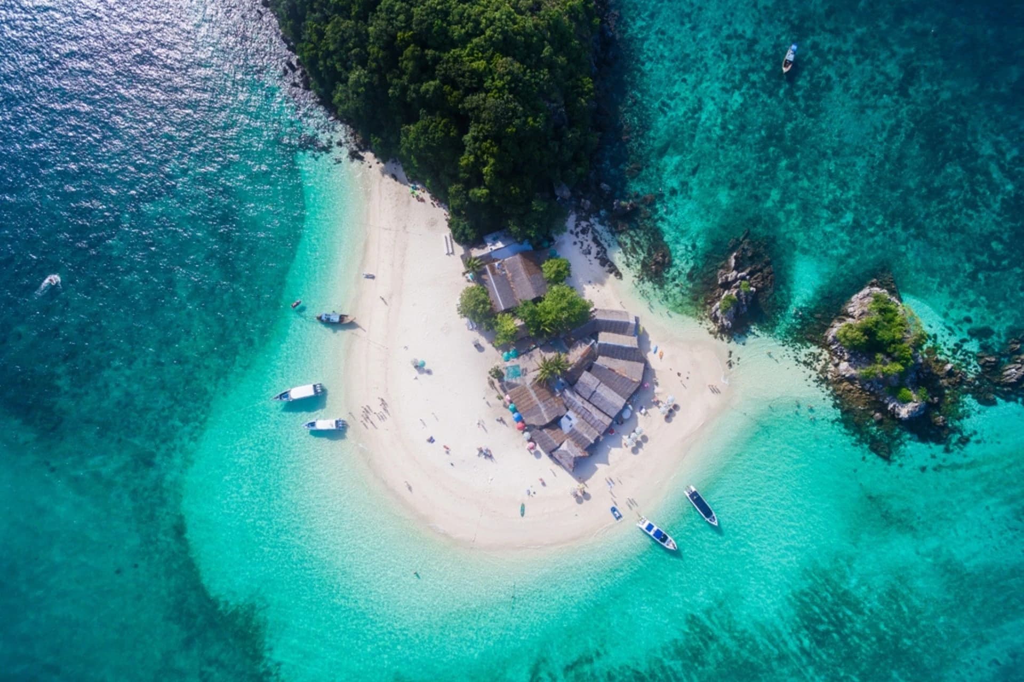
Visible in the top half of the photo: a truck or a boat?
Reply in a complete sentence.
You can see a boat in the top half of the photo.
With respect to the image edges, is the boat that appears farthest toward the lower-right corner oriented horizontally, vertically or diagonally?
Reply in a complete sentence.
The boat that appears farthest toward the lower-right corner runs diagonally in the image.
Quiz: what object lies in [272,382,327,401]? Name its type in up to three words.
boat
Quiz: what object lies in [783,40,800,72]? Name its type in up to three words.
boat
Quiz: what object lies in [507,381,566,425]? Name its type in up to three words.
building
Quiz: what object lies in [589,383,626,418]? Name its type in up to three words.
shed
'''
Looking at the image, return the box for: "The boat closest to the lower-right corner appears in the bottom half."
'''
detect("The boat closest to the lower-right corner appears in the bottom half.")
[684,485,718,527]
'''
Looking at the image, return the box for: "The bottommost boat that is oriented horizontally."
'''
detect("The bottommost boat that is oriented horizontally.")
[301,419,349,432]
